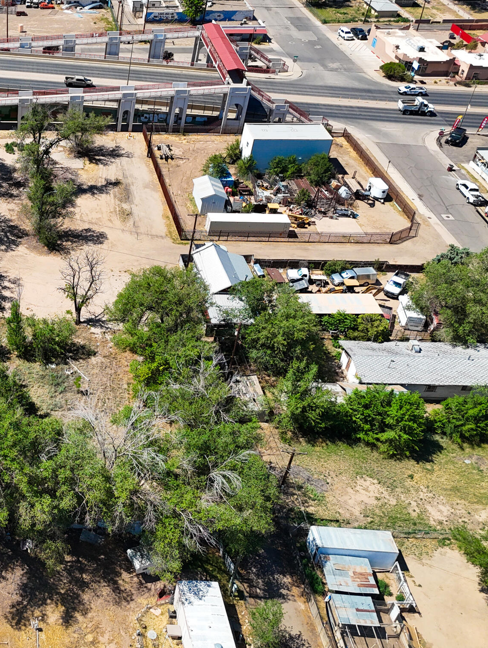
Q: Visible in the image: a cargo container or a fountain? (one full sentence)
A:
I can see a cargo container in this picture.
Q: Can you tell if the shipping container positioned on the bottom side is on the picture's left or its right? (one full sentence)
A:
The shipping container positioned on the bottom side is on the right side of the image.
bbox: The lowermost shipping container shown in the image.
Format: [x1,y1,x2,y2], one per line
[304,526,399,569]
